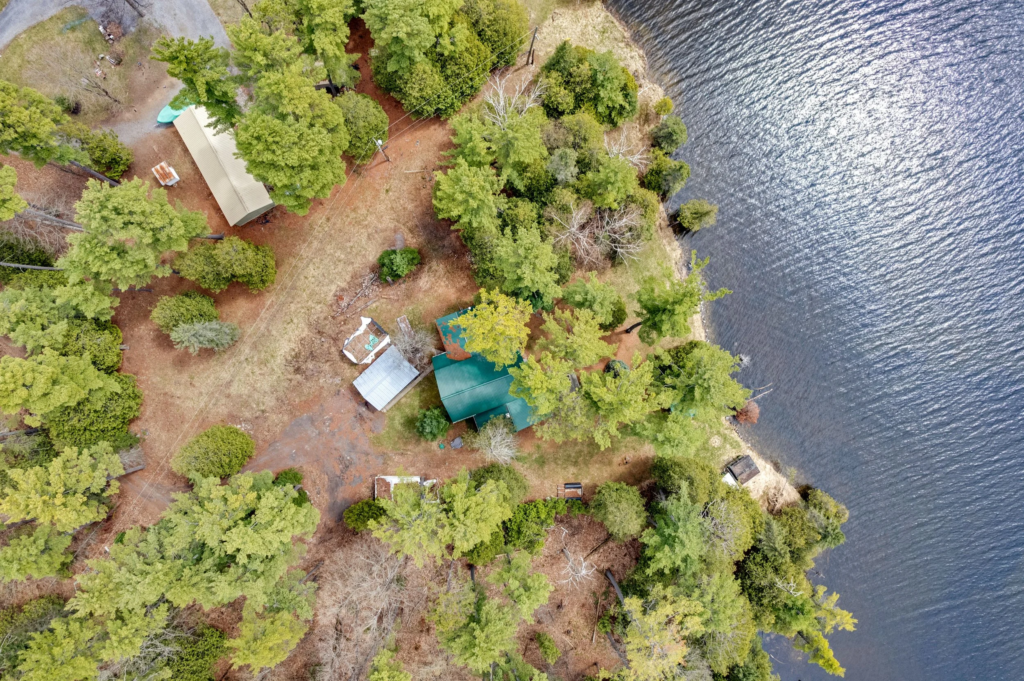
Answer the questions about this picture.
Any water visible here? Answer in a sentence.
Yes, there's water in this view.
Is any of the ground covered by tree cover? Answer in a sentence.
Yes, tree cover can be seen from above here.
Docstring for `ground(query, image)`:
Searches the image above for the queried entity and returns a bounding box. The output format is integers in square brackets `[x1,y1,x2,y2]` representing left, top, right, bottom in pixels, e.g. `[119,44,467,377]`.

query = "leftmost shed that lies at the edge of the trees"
[151,160,181,187]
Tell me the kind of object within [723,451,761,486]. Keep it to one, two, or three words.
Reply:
shed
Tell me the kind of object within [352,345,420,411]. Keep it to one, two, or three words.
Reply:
shed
